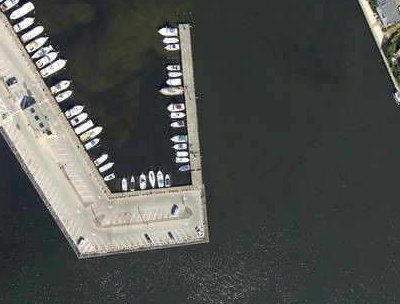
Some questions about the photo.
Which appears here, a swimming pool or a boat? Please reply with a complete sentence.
This aerial view contains a boat.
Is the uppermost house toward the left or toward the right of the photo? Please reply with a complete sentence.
It is on the right.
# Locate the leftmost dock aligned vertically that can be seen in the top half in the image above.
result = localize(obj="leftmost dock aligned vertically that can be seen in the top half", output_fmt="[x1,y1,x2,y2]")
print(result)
[179,24,204,186]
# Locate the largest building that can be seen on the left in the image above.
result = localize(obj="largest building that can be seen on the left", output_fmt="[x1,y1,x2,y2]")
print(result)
[24,102,52,135]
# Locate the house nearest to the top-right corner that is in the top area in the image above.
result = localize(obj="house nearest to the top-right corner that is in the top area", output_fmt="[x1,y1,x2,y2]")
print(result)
[375,0,400,28]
